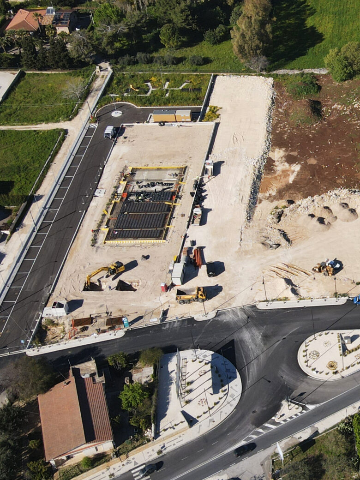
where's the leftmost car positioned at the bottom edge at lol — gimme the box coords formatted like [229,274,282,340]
[136,462,160,479]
